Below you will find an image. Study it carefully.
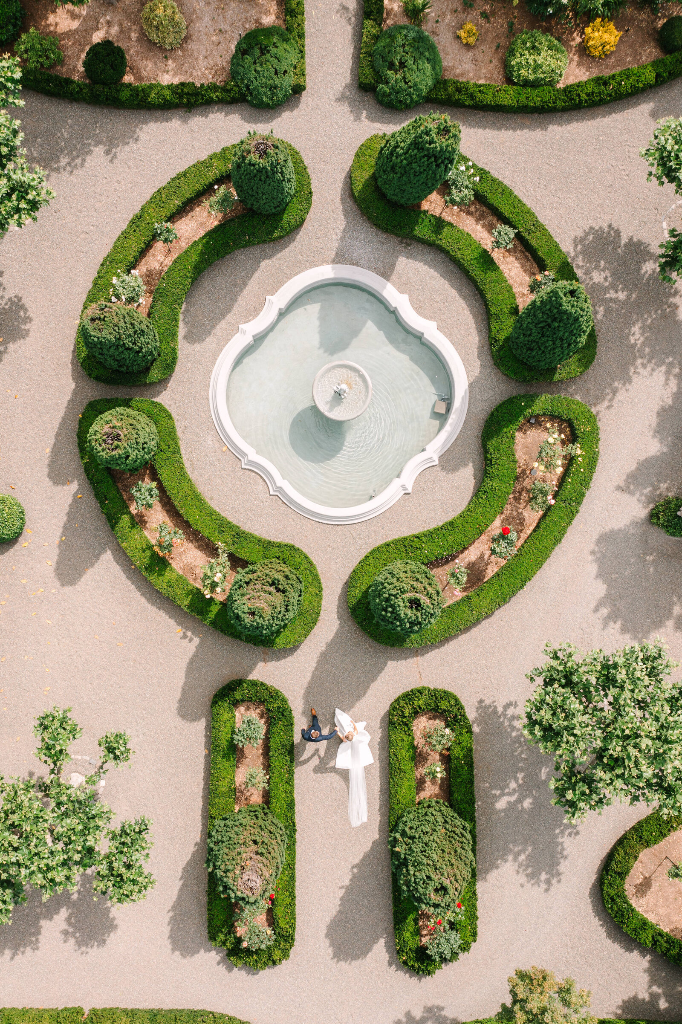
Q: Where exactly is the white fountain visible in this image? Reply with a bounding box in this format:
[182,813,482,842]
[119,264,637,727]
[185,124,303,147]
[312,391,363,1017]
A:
[210,264,469,524]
